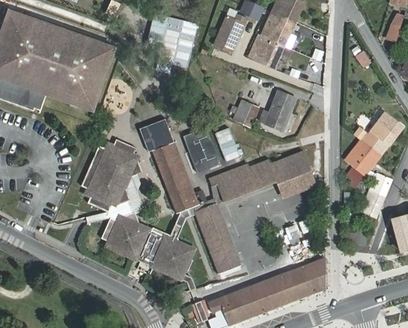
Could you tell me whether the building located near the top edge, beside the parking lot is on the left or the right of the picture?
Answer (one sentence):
It is on the left.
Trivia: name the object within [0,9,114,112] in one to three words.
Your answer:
building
